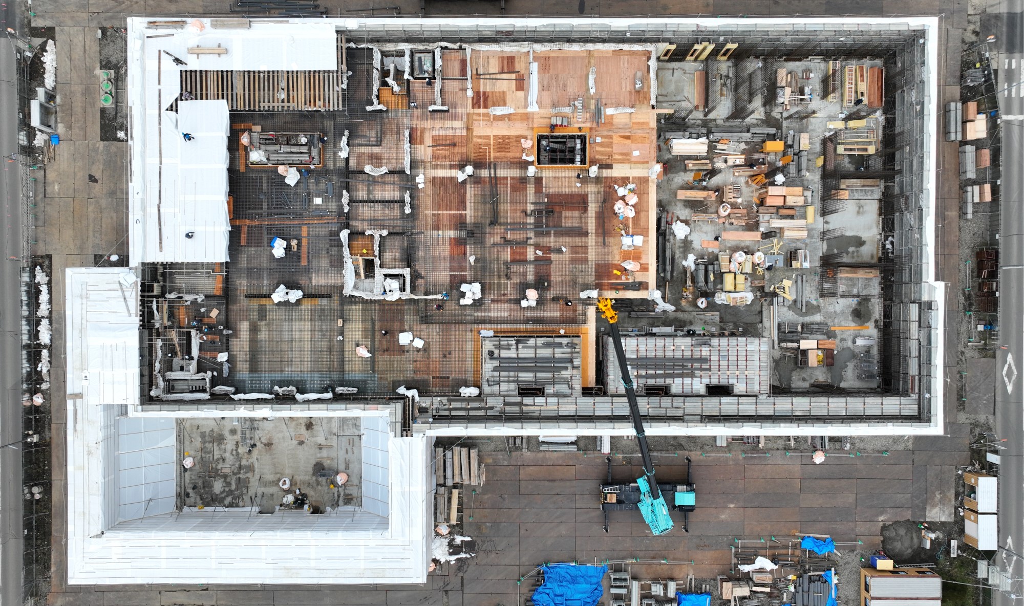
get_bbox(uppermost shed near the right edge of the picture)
[964,472,997,512]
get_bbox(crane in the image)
[580,295,696,536]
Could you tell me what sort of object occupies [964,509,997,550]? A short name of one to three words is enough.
shed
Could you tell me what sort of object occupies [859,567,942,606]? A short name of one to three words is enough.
building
